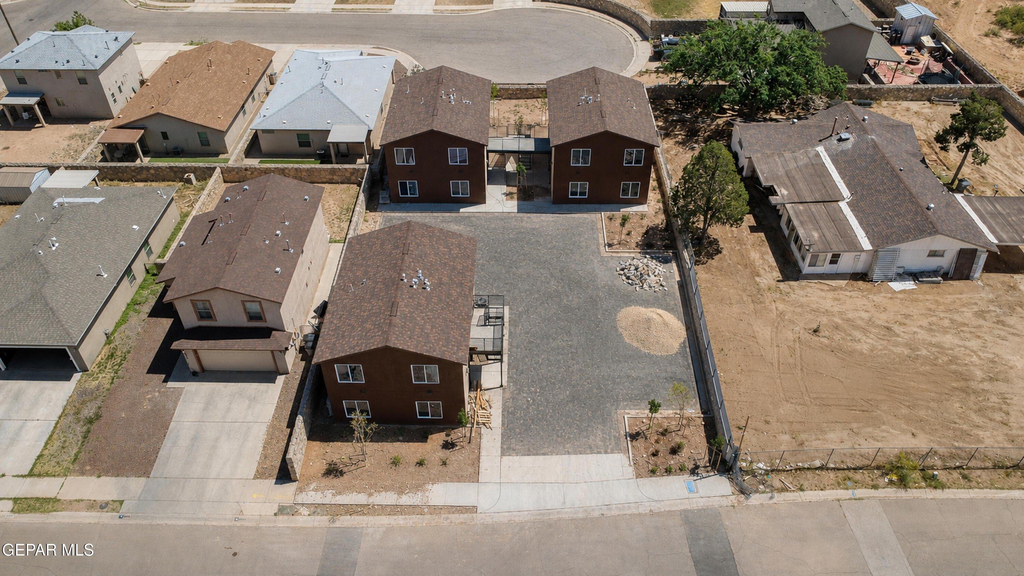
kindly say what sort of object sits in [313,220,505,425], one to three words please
building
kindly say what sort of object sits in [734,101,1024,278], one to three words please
house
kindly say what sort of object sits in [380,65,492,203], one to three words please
building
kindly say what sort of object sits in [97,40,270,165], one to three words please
house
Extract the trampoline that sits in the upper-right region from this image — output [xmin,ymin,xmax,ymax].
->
[924,60,972,85]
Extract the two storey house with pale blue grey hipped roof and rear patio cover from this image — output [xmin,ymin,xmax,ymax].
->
[0,22,144,127]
